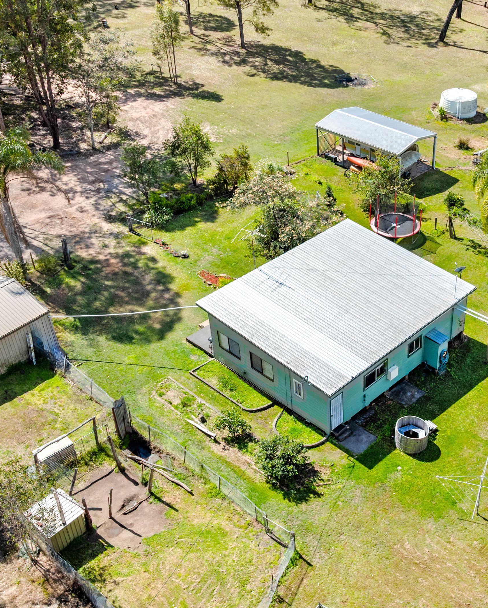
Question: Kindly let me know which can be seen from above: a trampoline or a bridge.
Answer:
trampoline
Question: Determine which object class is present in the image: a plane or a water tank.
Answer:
water tank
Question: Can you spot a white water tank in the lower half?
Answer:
No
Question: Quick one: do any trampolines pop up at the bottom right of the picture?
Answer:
No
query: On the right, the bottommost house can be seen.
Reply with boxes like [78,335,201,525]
[194,218,479,437]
